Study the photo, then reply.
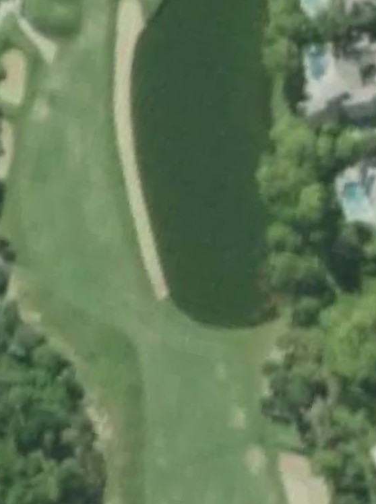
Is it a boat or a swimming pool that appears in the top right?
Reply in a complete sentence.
It is a swimming pool that can be seen in the top right.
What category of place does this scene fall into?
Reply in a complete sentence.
The picture captures a golf course.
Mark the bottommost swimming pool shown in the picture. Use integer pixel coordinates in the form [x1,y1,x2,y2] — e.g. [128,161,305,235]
[337,165,375,227]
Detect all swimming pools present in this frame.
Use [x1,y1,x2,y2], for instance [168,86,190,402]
[302,42,333,84]
[337,165,375,227]
[300,0,329,16]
